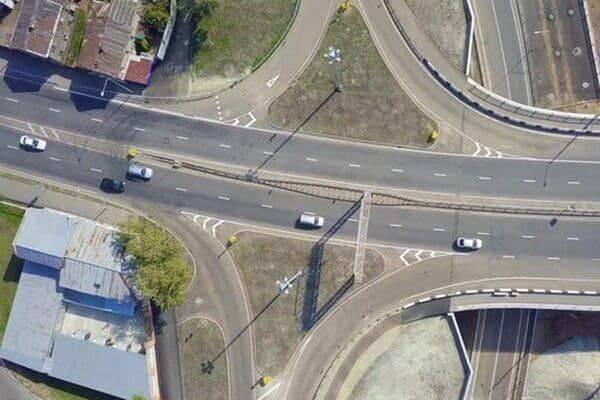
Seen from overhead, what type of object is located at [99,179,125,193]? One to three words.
car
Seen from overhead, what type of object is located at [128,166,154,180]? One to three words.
vehicle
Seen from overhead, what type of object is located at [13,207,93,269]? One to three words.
building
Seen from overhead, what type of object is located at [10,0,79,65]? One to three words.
house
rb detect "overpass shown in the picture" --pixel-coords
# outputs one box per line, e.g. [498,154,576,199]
[449,79,600,315]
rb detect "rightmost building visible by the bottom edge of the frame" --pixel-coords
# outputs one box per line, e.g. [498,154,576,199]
[47,330,157,400]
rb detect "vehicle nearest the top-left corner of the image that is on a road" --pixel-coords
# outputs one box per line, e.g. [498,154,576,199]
[20,136,47,151]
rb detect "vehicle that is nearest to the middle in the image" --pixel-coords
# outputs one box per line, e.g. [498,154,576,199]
[299,214,325,227]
